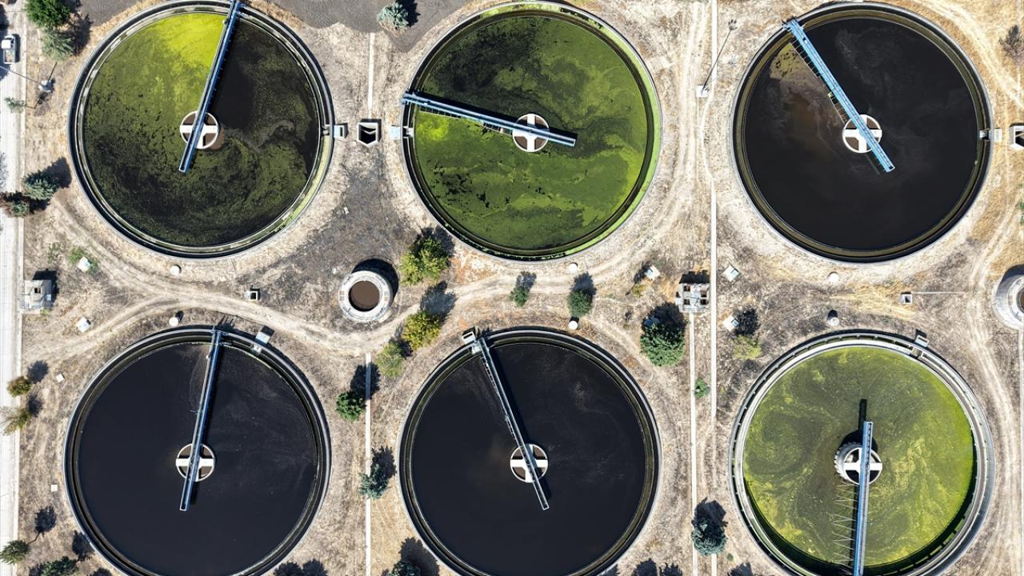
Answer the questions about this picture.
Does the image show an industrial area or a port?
industrial area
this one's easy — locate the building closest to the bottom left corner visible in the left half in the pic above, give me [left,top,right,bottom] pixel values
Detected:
[15,281,60,316]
